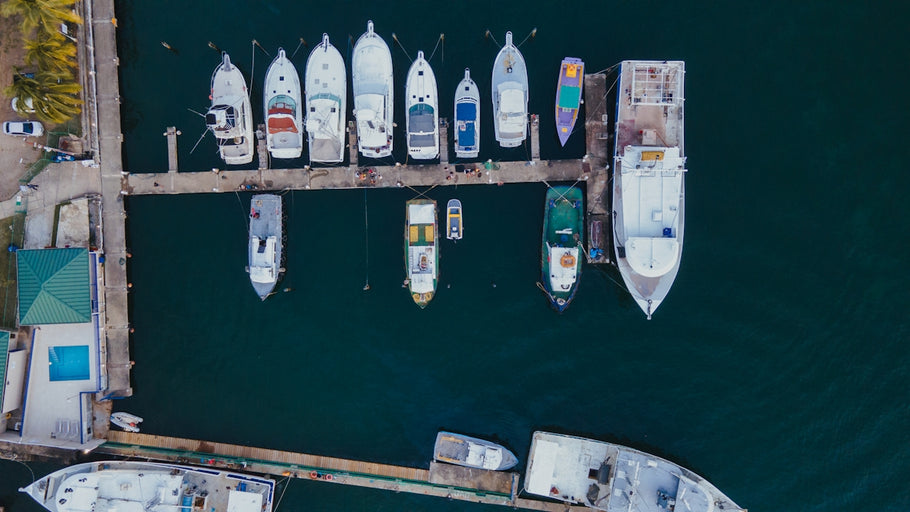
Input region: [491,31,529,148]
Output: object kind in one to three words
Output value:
boat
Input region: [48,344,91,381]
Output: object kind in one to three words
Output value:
swimming pool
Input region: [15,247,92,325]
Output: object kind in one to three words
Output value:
house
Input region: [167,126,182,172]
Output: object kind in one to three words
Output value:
pier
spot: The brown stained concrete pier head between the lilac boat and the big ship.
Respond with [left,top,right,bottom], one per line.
[584,73,610,263]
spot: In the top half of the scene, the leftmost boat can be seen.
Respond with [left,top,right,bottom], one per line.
[188,52,255,165]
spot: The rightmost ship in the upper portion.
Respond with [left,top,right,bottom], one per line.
[612,61,688,319]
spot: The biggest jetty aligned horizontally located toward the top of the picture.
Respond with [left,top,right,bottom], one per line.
[122,160,587,195]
